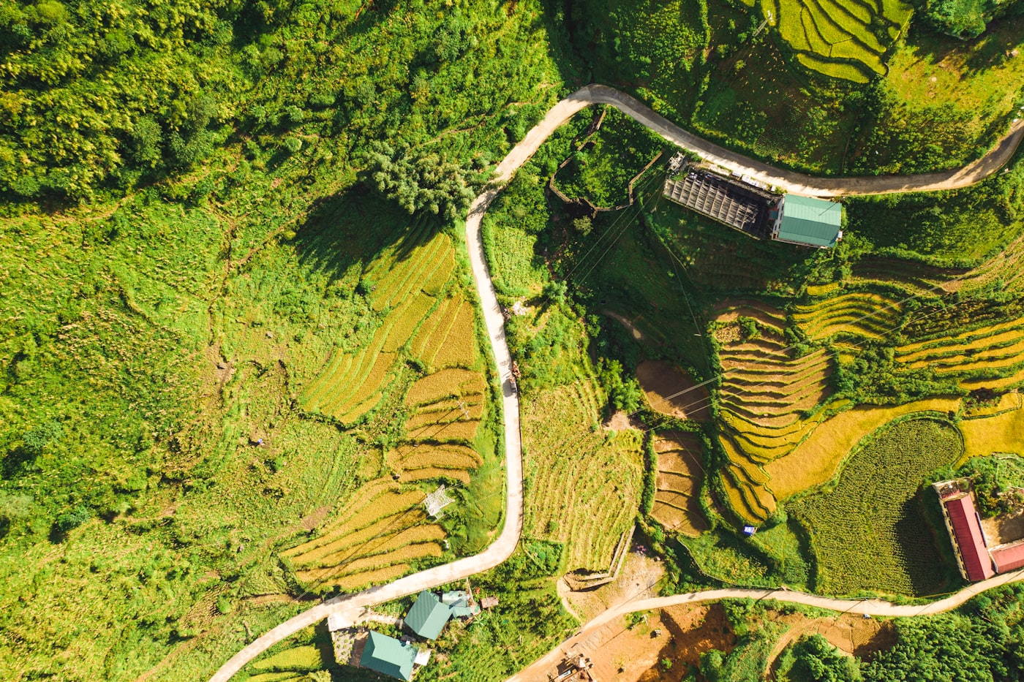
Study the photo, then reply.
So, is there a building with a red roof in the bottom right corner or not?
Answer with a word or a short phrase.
Yes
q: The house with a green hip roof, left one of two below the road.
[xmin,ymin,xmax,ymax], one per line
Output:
[360,629,420,681]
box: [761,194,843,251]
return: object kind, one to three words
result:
house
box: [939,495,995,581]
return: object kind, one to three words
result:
building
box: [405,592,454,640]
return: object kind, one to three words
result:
house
